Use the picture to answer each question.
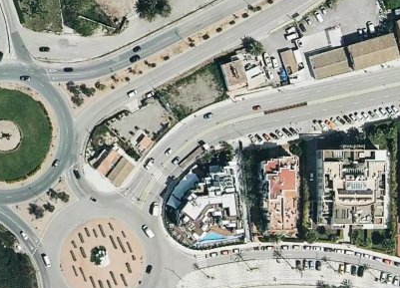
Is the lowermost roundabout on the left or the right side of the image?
left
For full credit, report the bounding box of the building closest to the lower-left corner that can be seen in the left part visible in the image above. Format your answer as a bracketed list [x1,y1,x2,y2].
[89,143,137,189]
